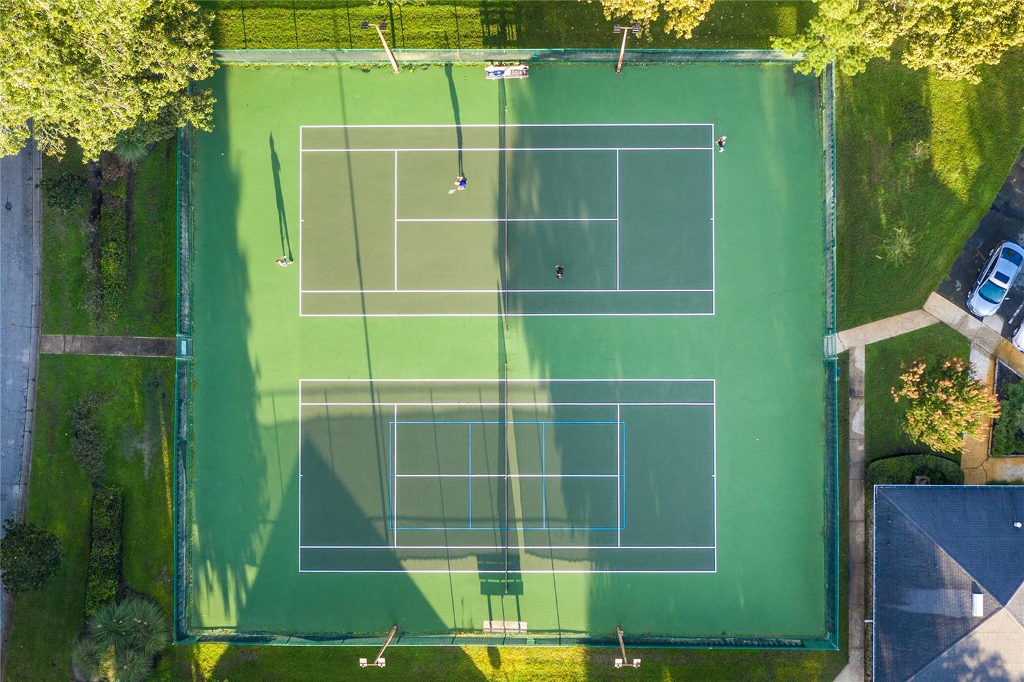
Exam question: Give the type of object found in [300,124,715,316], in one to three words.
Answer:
tennis court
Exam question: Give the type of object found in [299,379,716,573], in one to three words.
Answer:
tennis court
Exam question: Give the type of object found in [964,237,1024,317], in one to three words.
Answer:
car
